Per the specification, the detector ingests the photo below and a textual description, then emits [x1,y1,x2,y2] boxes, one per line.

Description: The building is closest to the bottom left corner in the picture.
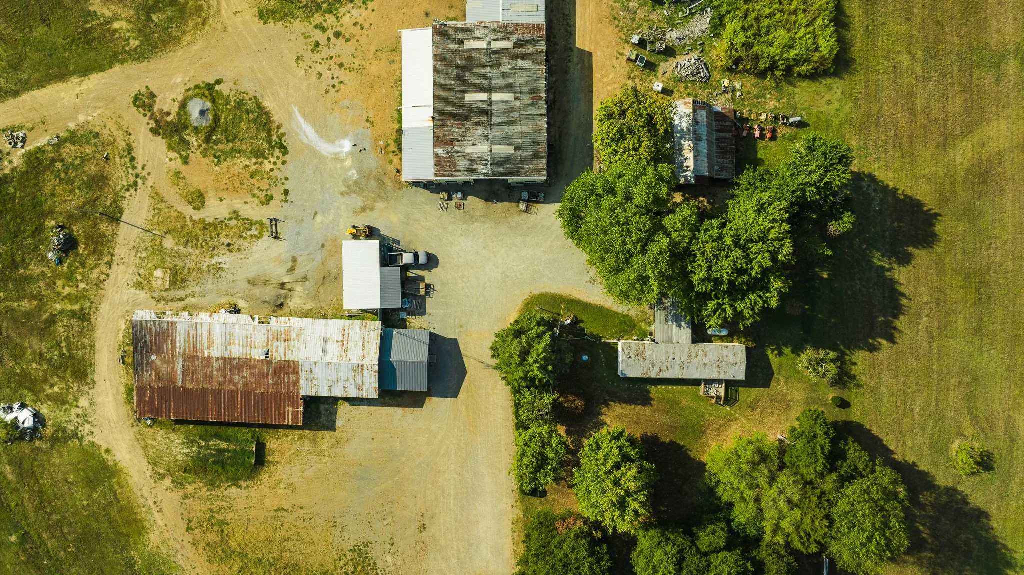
[128,311,385,425]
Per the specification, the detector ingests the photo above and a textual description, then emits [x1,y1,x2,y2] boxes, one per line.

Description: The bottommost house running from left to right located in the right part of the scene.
[618,341,746,380]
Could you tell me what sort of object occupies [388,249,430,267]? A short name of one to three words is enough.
vehicle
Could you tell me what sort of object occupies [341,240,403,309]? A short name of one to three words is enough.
shed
